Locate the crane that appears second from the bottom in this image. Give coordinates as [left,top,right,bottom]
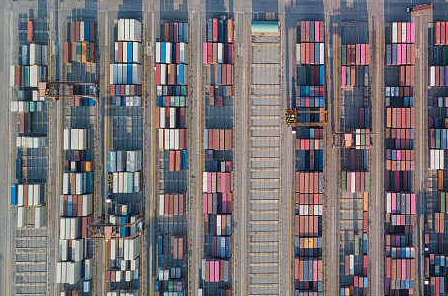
[331,127,376,149]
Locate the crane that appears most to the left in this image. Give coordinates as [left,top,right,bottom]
[34,79,99,100]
